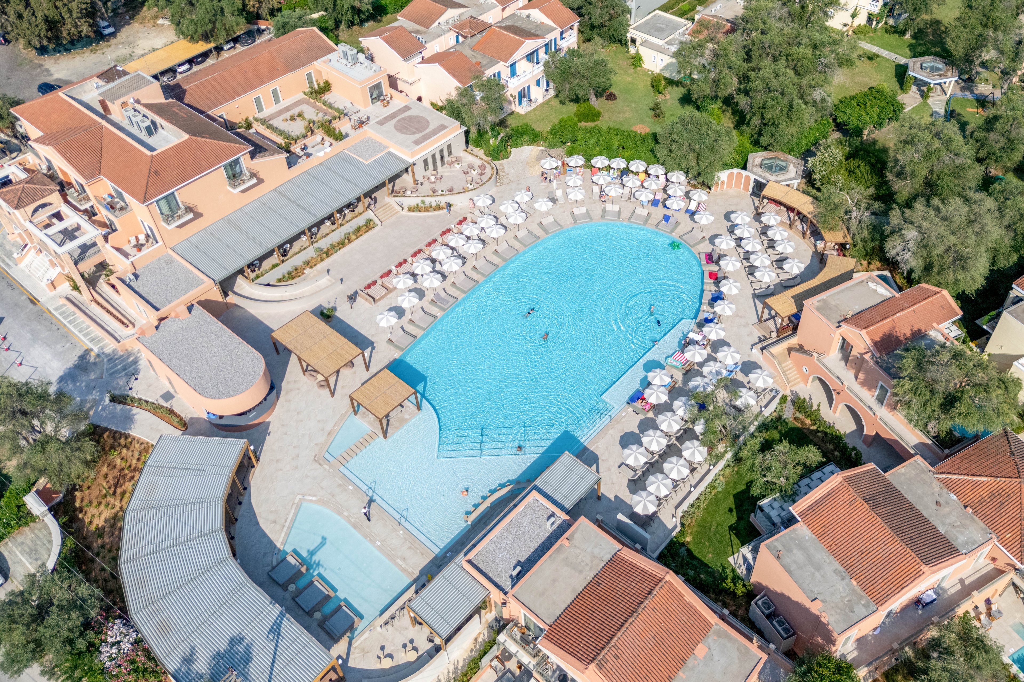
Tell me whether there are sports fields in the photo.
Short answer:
No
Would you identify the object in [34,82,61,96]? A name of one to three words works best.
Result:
car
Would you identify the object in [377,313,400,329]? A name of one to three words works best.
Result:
umbrella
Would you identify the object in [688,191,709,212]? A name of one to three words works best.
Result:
umbrella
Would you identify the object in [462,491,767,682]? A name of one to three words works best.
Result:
house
